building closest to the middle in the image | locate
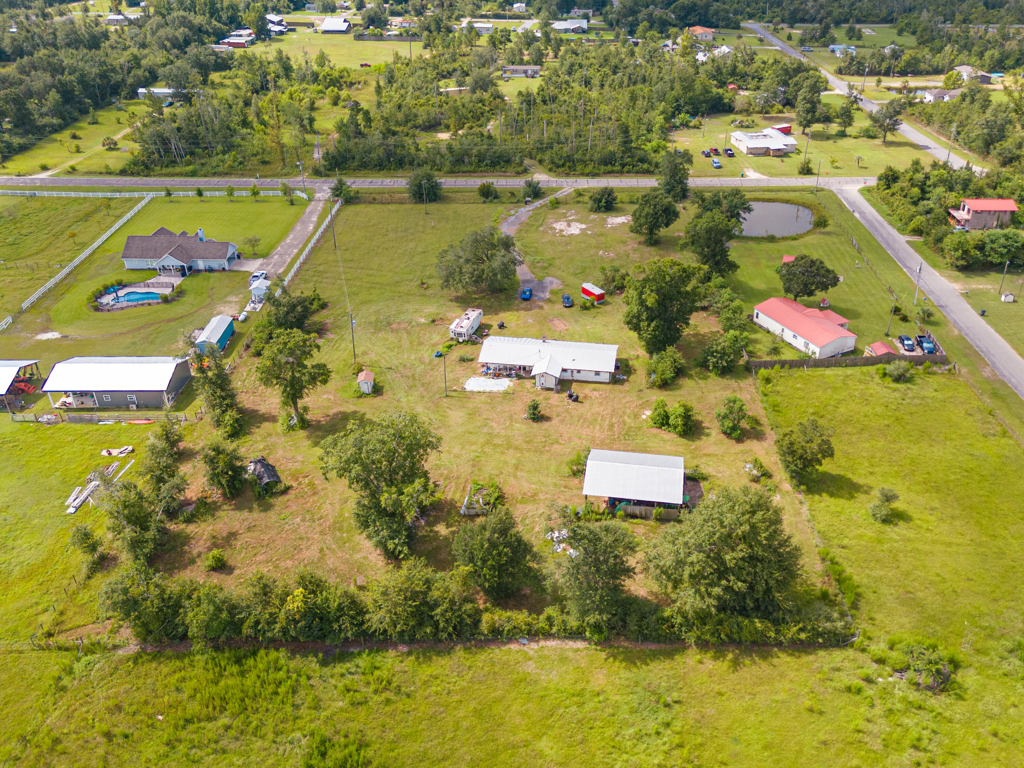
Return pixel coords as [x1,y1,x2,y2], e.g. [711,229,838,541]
[478,336,615,386]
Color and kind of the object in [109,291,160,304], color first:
blue swimming pool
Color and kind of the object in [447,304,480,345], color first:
white vehicle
